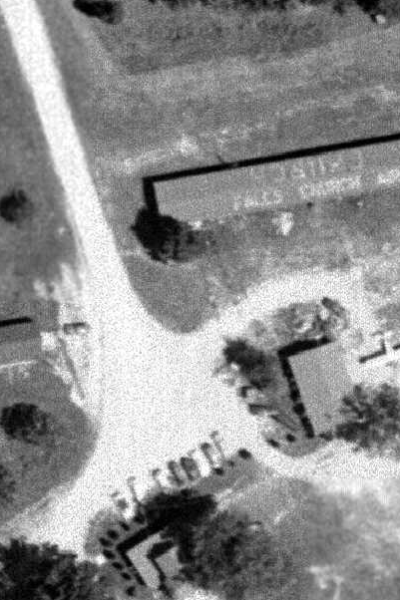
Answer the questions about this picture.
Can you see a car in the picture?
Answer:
Yes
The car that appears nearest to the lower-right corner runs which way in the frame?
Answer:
at an angle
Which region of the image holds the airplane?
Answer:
right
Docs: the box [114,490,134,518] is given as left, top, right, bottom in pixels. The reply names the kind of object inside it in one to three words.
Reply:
car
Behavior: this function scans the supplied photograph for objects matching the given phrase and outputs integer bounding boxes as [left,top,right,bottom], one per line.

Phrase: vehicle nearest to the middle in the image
[225,364,251,383]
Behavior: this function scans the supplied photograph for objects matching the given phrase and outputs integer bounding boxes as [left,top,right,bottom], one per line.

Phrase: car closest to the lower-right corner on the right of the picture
[266,411,292,434]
